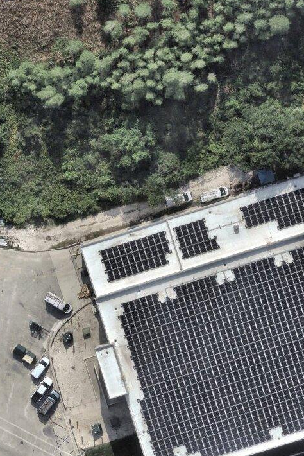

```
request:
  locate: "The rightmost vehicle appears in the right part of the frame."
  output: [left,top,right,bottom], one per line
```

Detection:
[200,187,228,203]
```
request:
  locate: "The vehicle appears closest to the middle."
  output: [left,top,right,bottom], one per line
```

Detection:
[165,190,192,205]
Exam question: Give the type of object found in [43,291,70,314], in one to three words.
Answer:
vehicle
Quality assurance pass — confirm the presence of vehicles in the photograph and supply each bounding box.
[43,291,70,314]
[30,357,49,381]
[200,187,228,203]
[30,378,51,405]
[37,389,58,415]
[165,190,192,205]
